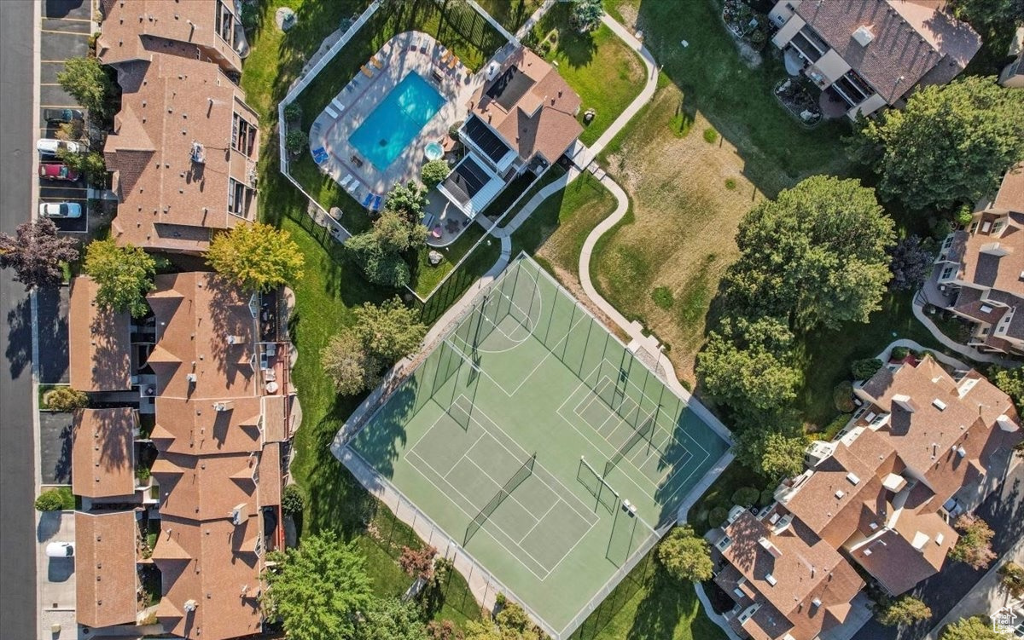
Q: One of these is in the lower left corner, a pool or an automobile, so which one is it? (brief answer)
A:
automobile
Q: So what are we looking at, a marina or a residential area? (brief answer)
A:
residential area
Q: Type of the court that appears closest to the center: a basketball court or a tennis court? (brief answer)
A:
basketball court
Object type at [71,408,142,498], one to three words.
building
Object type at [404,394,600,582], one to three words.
tennis court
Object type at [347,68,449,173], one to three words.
swimming pool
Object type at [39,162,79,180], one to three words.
car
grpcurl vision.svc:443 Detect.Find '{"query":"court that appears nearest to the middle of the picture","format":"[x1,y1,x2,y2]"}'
[451,261,539,352]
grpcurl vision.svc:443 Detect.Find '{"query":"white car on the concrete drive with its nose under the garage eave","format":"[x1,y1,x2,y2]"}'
[46,541,76,560]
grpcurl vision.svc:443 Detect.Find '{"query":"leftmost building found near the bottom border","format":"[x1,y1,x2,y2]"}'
[75,510,144,629]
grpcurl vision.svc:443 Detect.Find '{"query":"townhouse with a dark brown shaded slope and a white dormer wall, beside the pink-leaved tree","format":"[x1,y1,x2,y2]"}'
[843,476,959,597]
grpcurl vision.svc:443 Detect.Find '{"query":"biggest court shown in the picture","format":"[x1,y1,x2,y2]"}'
[346,256,729,633]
